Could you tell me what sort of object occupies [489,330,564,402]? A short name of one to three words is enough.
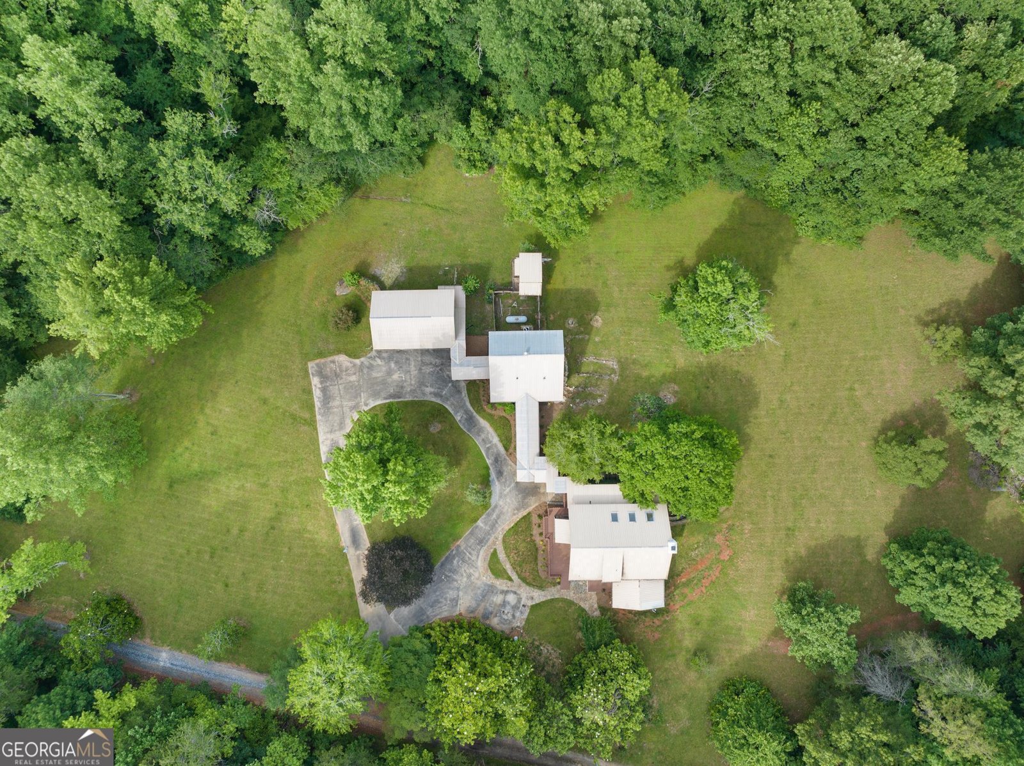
house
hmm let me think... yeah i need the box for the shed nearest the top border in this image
[514,253,551,299]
